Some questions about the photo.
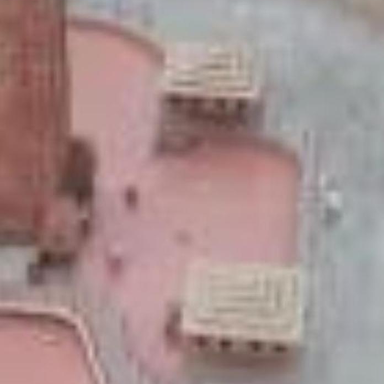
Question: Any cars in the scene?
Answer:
No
